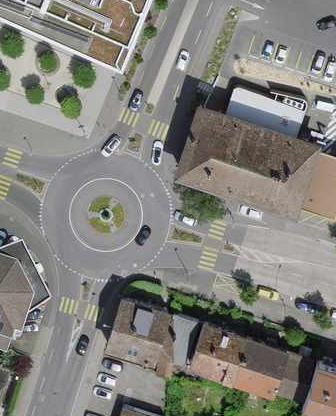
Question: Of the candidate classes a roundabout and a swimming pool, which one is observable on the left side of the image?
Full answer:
You can see a roundabout on the left side of the image.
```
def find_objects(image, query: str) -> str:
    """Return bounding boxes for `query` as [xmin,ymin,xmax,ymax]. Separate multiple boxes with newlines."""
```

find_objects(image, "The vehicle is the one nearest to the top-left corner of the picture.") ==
[128,88,143,110]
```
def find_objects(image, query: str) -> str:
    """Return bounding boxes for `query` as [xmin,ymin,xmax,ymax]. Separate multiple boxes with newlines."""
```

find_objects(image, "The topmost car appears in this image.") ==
[316,16,336,30]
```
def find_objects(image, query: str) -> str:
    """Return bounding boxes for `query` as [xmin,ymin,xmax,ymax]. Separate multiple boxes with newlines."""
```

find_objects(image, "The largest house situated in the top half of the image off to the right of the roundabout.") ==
[172,102,320,222]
